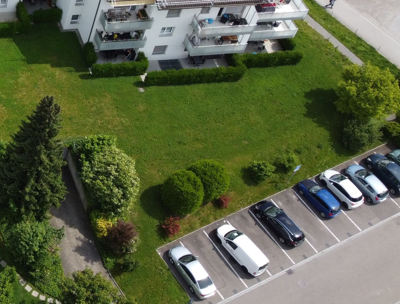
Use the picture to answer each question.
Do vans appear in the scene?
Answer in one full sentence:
Yes, there is a van in the image.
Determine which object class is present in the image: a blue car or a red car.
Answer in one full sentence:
Visible in the photo is a blue car.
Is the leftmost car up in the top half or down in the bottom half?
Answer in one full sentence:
The bottom half of the photo is where the leftmost car is.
